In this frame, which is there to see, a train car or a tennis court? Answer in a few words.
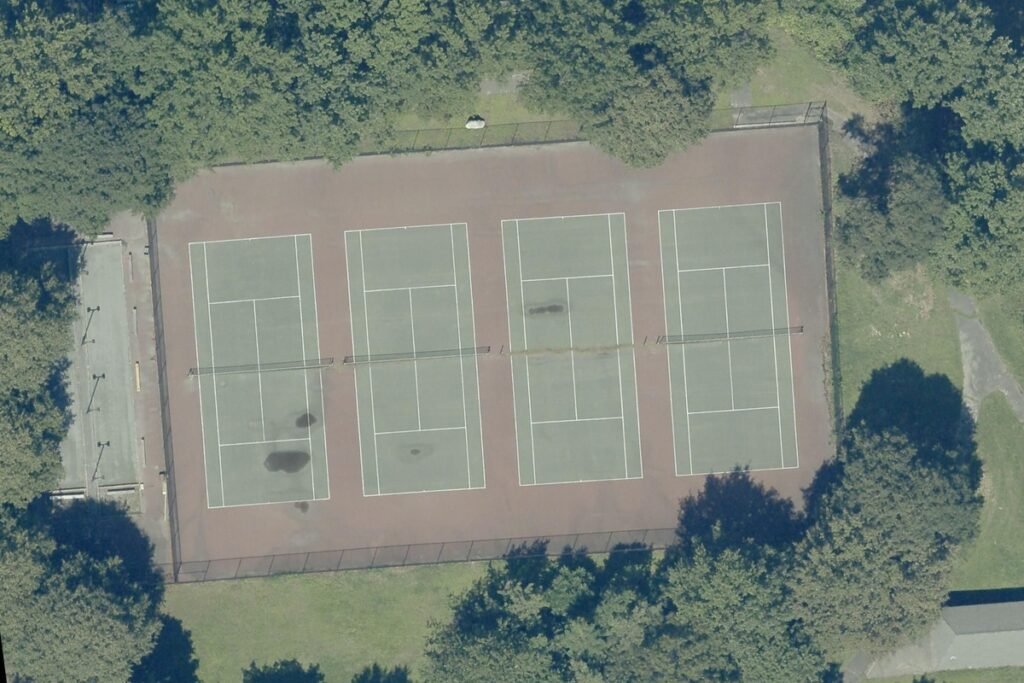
tennis court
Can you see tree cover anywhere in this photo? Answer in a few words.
Yes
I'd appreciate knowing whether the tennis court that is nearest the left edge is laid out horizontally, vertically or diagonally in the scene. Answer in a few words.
vertically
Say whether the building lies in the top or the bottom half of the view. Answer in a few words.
bottom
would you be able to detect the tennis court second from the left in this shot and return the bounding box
[345,223,486,496]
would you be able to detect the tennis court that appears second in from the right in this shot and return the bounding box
[502,212,642,485]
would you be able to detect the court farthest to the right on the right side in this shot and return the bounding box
[658,202,798,475]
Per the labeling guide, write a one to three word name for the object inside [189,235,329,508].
tennis court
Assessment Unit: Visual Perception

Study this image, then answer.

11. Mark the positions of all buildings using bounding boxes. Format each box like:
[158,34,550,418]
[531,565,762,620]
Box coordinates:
[934,602,1024,671]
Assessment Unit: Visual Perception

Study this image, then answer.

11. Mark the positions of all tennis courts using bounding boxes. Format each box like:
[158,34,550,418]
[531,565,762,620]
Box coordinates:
[658,202,798,475]
[189,235,329,508]
[502,212,642,485]
[345,223,486,496]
